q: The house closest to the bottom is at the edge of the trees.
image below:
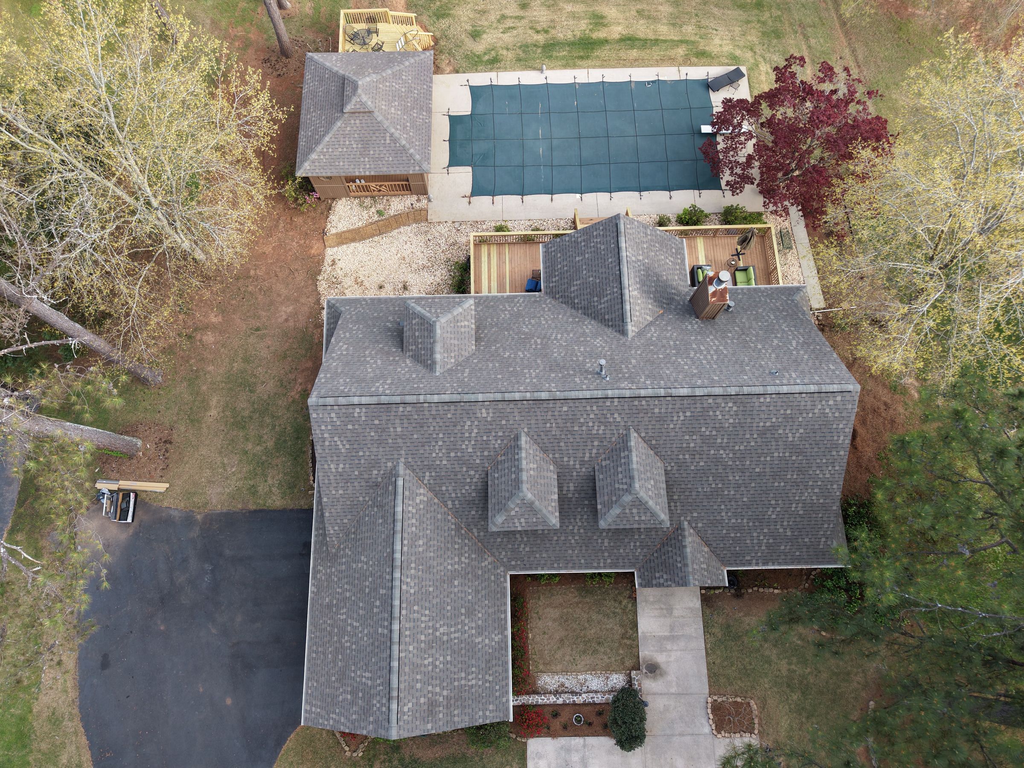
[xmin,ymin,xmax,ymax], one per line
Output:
[300,210,860,743]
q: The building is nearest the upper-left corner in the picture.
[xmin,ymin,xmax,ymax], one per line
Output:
[295,50,435,201]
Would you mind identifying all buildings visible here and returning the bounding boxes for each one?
[300,210,860,743]
[295,50,435,201]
